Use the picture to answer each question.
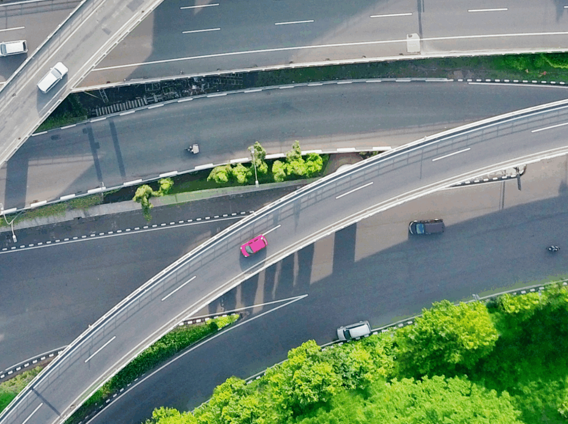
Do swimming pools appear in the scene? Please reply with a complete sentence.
No, there isn't any swimming pool down there.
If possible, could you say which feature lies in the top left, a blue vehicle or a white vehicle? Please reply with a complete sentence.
The one visible in the top left is a white vehicle.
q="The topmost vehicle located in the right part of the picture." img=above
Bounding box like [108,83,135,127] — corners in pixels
[408,219,445,235]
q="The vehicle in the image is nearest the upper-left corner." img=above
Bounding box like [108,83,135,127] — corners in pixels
[0,38,29,56]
